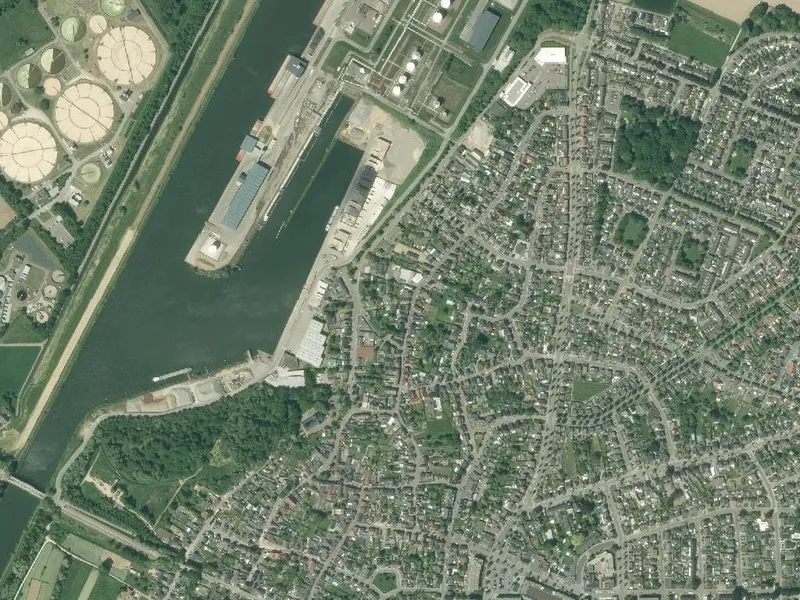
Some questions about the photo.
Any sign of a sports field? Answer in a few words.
Yes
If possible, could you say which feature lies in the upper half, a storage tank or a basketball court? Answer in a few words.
storage tank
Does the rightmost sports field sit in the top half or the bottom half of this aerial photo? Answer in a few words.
top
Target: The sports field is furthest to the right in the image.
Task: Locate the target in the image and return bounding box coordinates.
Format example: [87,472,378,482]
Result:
[668,18,730,67]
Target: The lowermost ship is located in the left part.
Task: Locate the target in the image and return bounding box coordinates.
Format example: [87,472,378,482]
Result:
[153,367,192,381]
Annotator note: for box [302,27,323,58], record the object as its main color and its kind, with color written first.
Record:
gray ship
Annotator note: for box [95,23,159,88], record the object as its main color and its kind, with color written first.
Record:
white storage tank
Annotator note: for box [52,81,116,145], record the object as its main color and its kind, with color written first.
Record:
white storage tank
